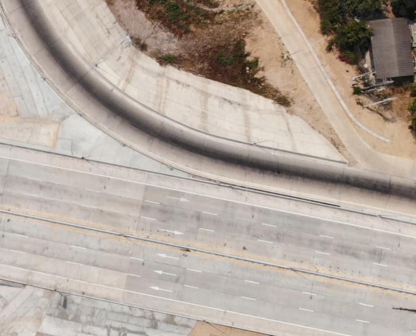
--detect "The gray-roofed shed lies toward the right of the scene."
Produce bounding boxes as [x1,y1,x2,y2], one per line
[362,18,413,78]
